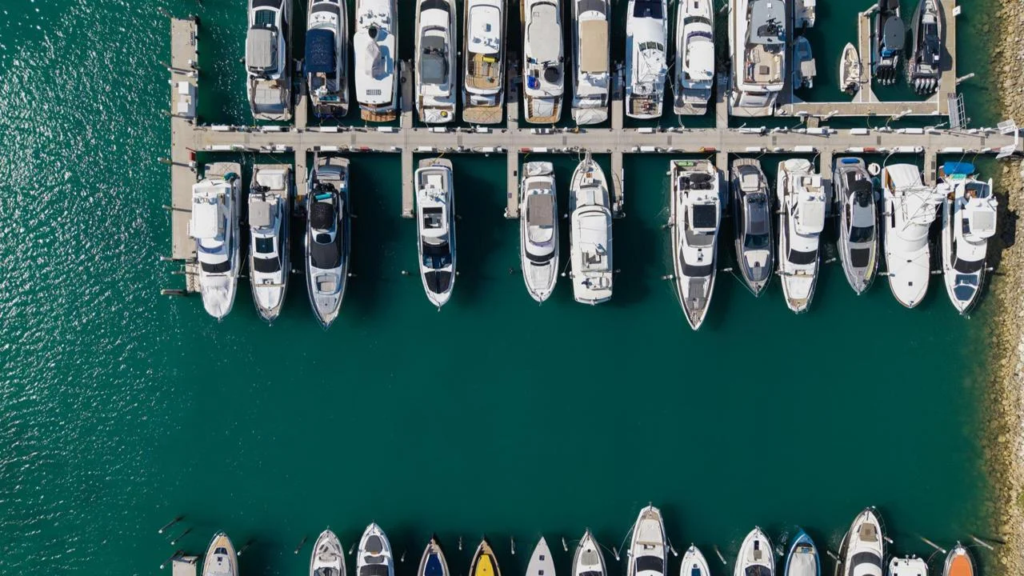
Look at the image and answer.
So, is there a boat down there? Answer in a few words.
Yes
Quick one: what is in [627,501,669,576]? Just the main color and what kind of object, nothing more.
white boat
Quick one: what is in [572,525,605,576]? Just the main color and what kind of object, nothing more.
white boat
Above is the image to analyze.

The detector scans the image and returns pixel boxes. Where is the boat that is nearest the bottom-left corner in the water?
[200,533,239,576]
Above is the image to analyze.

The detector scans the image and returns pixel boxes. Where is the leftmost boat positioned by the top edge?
[243,0,293,121]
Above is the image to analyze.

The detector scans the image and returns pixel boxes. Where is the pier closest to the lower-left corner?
[167,549,200,576]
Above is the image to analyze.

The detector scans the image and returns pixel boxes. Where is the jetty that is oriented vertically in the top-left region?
[171,18,199,261]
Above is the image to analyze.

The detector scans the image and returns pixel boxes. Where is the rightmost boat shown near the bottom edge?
[938,542,976,576]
